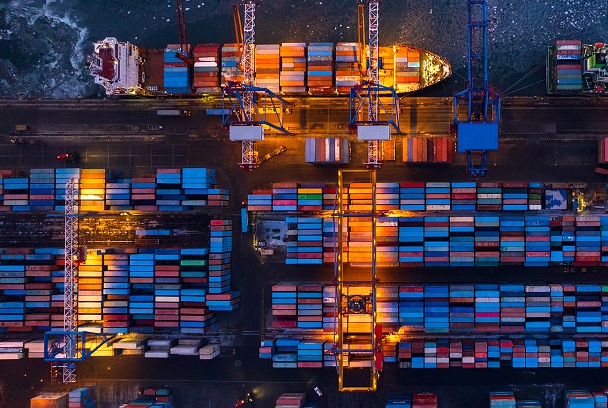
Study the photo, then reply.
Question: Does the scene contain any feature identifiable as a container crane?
Yes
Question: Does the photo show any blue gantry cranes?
Yes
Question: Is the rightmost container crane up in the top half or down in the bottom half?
top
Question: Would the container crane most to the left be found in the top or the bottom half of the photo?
bottom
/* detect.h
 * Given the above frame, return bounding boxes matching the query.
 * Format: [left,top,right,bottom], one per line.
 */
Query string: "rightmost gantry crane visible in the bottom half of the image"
[333,169,387,390]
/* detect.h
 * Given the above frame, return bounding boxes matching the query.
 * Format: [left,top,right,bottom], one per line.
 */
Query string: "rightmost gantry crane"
[446,0,501,183]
